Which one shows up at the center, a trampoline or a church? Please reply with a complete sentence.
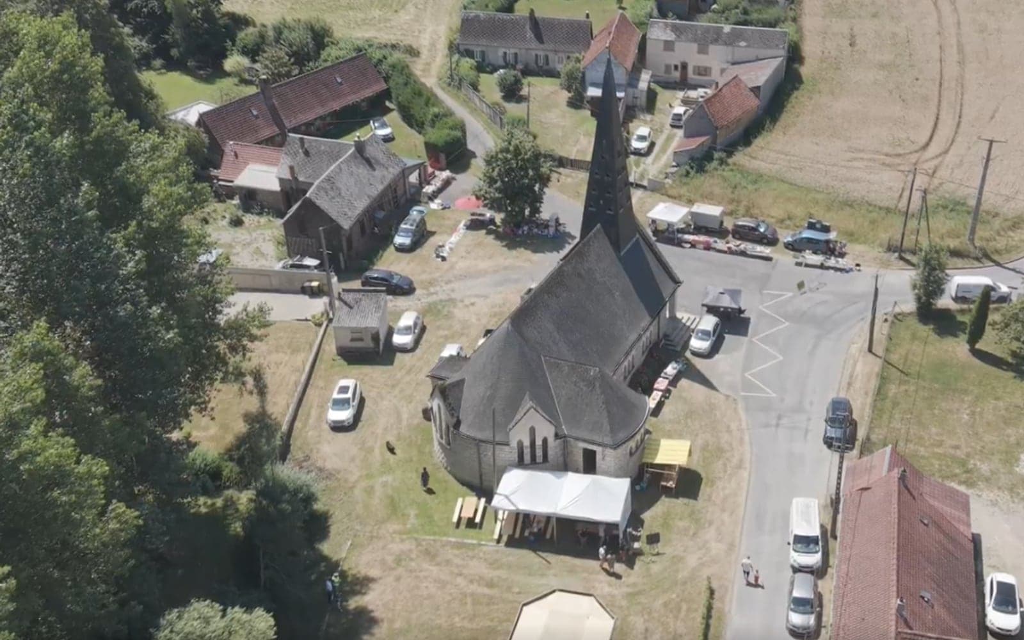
Looking at the center, you will find a church.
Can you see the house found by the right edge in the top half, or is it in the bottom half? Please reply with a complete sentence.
You can find the house found by the right edge in the bottom half.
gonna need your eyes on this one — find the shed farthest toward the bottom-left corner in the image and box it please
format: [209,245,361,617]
[330,286,390,354]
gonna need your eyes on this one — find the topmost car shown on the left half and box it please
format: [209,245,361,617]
[371,115,394,137]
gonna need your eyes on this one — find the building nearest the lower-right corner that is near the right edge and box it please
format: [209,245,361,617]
[826,440,981,640]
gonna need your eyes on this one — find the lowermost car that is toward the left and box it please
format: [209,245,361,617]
[324,377,360,425]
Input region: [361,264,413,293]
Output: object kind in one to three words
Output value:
car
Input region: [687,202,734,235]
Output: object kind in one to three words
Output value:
trailer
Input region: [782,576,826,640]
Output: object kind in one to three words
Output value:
car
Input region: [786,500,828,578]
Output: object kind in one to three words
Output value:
van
